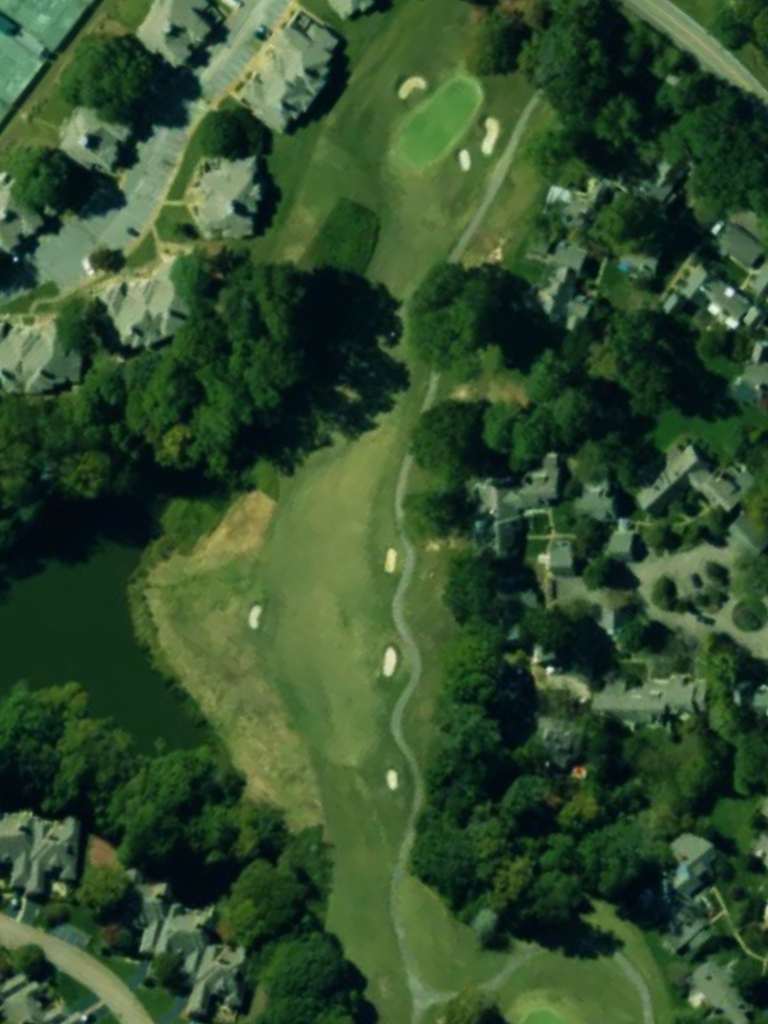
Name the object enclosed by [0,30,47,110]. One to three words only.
tennis court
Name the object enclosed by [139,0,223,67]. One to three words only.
building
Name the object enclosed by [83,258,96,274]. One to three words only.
vehicle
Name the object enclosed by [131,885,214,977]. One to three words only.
house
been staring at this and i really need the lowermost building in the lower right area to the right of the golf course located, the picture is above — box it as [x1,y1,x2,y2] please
[691,955,750,1024]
